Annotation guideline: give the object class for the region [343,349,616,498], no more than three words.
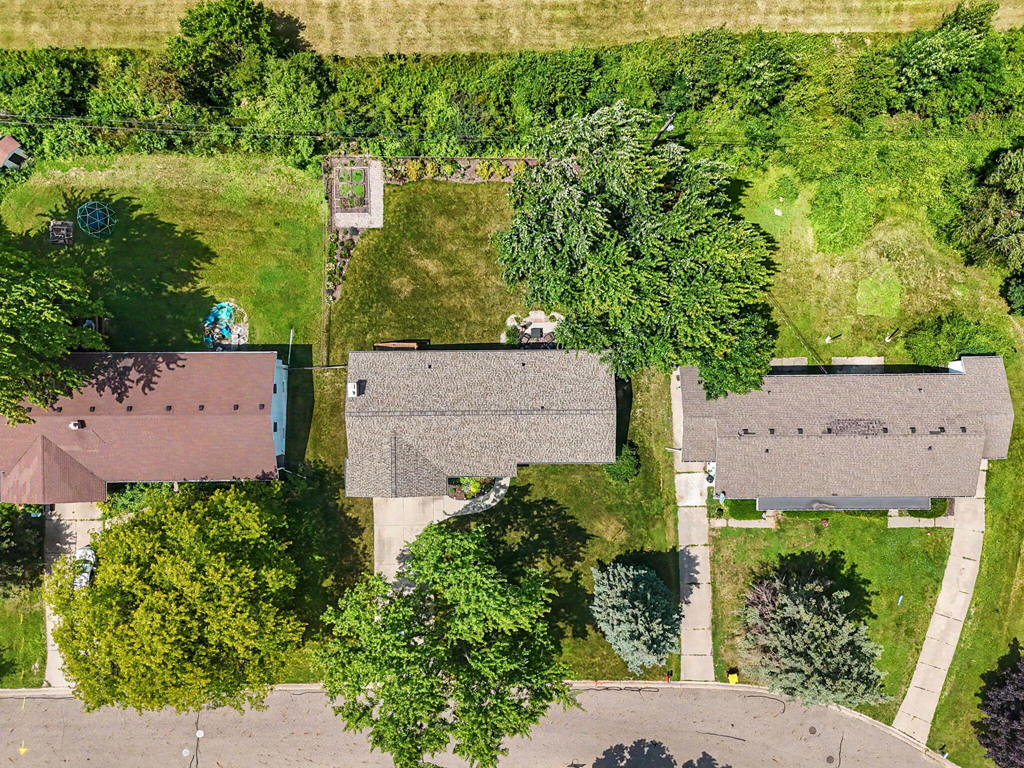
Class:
house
